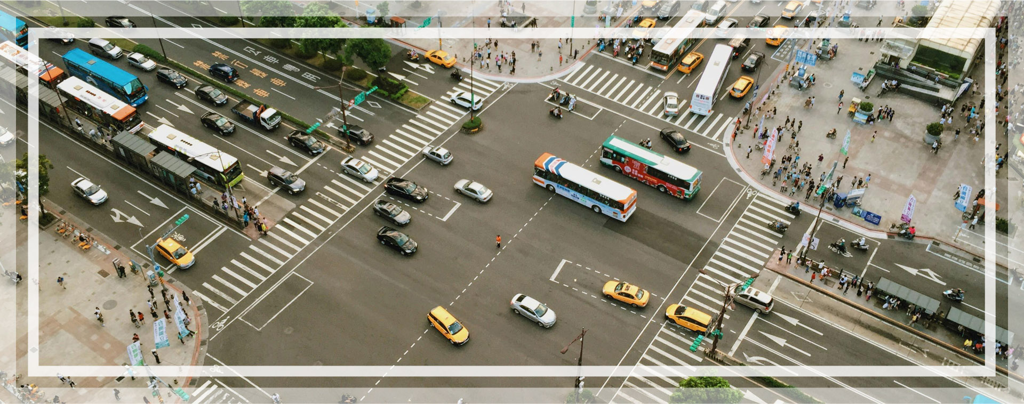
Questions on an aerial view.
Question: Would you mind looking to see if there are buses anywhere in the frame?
Yes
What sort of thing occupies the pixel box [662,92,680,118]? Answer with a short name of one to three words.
car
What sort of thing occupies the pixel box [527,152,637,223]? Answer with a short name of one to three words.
bus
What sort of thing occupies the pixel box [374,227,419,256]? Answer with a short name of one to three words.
car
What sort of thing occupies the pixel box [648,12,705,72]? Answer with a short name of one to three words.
bus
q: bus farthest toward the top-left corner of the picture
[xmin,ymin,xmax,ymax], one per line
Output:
[0,14,37,52]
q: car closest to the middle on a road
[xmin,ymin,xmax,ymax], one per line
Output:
[452,181,495,205]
